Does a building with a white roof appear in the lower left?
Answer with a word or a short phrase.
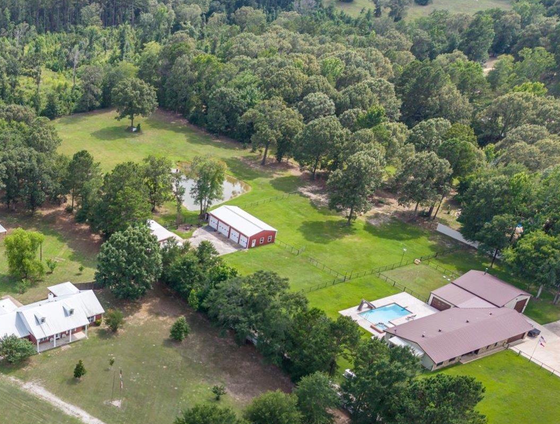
Yes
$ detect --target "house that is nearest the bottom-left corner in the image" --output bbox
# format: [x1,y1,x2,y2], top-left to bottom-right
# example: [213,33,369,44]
[0,282,106,353]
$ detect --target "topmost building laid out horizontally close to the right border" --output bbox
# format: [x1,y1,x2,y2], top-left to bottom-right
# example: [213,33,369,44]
[428,267,535,315]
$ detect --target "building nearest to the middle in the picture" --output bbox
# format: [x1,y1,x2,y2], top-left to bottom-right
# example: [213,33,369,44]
[209,205,277,248]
